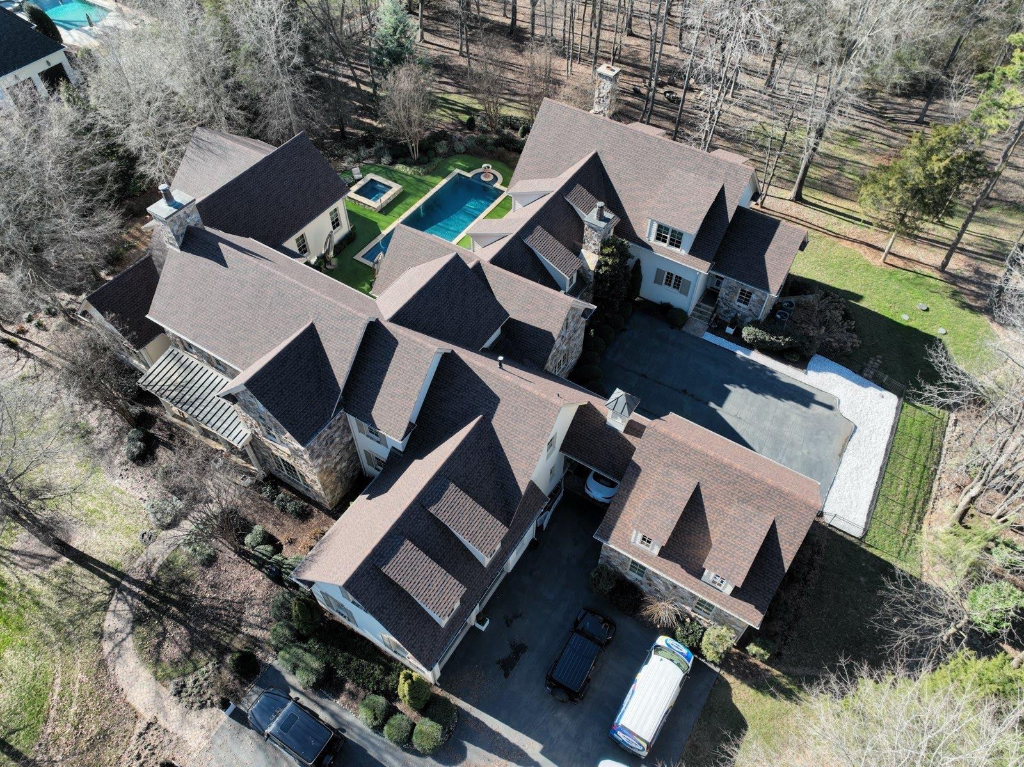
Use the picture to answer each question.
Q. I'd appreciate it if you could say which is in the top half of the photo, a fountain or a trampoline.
fountain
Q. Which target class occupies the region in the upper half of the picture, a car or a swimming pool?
swimming pool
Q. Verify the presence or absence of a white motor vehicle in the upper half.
No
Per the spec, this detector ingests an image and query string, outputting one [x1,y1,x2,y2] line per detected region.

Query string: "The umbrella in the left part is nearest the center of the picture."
[361,250,375,286]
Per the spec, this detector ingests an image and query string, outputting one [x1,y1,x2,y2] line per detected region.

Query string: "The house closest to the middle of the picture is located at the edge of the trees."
[76,64,821,698]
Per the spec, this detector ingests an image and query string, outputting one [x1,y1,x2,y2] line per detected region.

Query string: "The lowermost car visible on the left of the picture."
[246,685,345,767]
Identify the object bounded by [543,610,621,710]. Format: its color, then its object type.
black car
